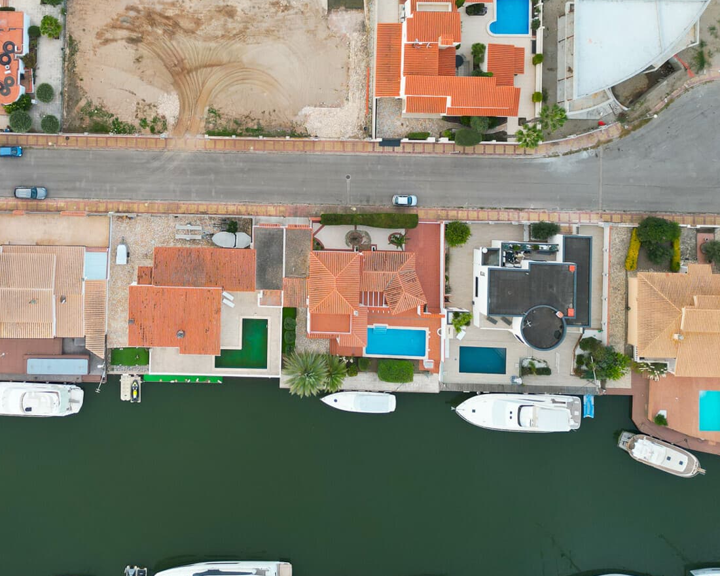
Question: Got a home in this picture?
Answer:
Yes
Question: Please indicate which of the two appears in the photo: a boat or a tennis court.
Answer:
boat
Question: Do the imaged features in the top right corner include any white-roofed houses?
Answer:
Yes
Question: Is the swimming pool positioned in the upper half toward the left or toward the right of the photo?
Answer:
right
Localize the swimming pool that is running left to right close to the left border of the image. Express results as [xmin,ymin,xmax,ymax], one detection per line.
[26,359,89,375]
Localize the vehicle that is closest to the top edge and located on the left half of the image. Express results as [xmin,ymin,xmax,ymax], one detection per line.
[0,144,25,159]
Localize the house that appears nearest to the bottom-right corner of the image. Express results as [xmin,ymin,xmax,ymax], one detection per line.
[623,263,720,377]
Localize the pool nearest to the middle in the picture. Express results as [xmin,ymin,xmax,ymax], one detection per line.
[363,323,428,359]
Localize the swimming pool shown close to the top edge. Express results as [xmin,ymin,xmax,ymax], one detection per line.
[488,0,530,36]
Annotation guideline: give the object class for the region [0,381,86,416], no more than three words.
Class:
boat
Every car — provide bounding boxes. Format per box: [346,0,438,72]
[391,192,416,208]
[0,144,25,159]
[15,183,48,200]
